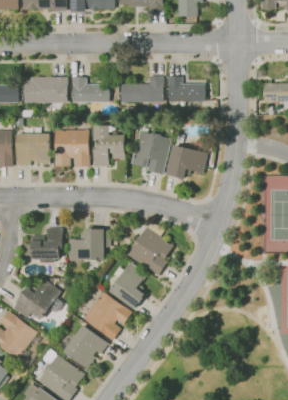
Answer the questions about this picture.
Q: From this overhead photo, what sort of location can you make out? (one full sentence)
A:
The area seen from above is a residential area.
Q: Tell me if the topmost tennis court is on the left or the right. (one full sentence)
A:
The topmost tennis court sits on the right side.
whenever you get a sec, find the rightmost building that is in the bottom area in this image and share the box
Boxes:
[129,228,175,276]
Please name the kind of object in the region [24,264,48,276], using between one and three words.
swimming pool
